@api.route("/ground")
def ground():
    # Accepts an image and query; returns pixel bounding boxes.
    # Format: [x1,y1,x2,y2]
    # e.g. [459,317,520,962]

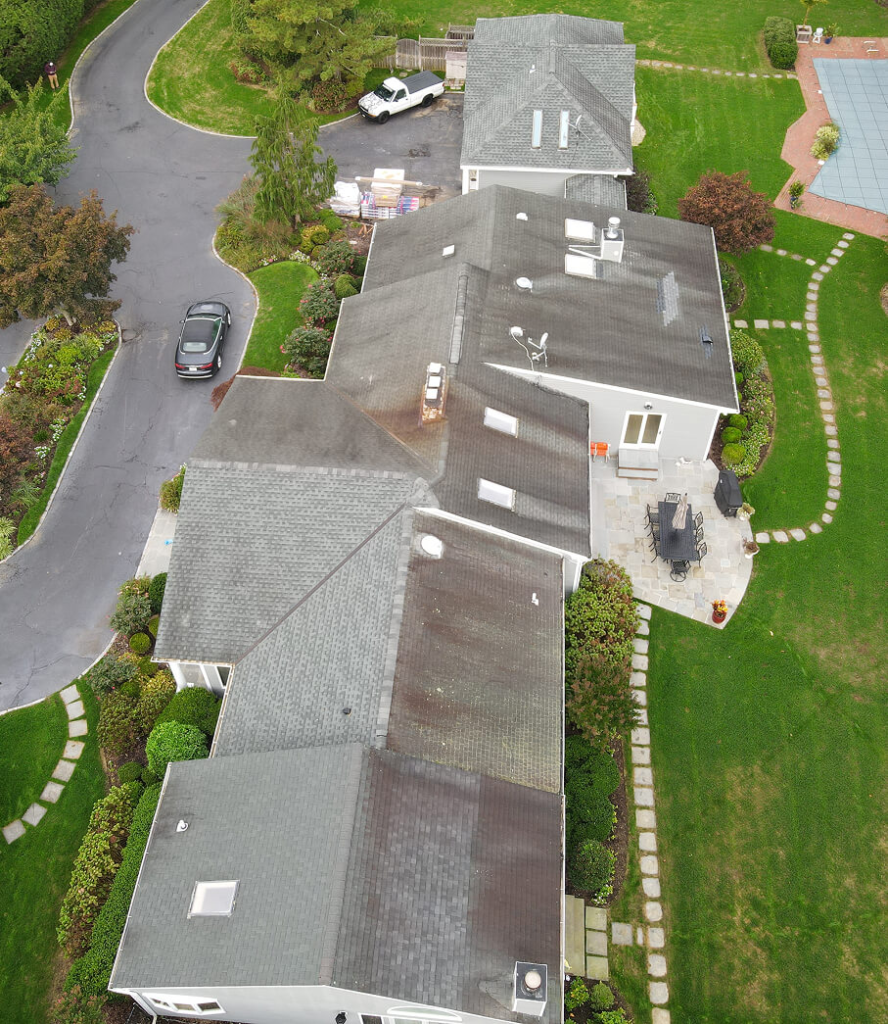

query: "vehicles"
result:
[351,71,445,124]
[174,293,233,372]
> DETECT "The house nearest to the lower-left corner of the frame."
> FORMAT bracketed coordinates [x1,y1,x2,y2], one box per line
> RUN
[99,186,741,1024]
